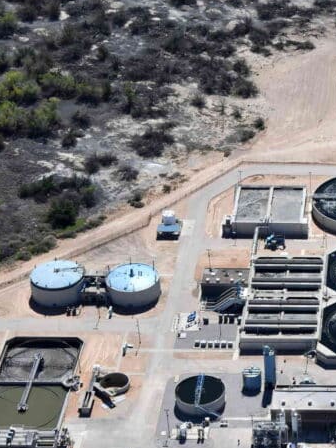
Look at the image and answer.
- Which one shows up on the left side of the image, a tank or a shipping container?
tank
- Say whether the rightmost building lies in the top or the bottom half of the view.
bottom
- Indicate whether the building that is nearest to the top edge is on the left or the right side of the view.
right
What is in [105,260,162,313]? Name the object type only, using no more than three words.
storage tank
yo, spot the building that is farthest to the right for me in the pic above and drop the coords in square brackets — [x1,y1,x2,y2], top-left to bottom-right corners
[270,384,336,429]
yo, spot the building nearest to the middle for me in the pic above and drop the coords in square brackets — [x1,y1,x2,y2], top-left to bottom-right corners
[200,266,252,308]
